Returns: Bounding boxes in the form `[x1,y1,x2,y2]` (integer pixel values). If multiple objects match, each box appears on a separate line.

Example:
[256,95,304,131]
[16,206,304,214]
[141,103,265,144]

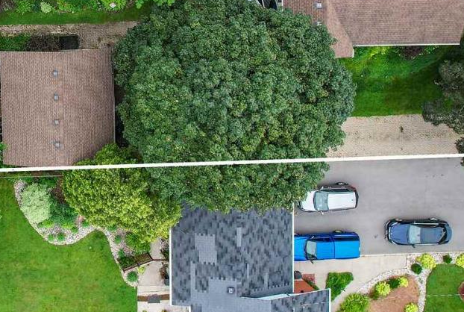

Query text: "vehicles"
[295,228,361,264]
[291,180,363,215]
[379,215,454,251]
